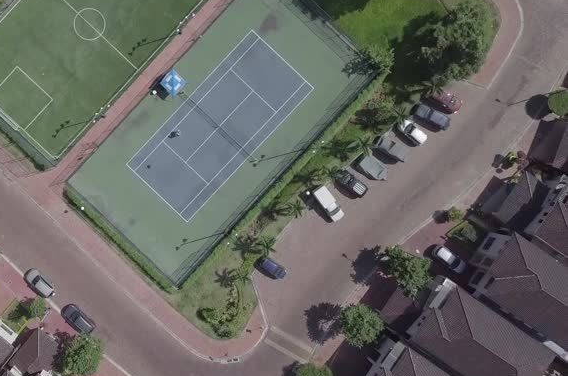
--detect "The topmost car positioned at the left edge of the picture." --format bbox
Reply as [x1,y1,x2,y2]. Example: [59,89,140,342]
[23,266,56,299]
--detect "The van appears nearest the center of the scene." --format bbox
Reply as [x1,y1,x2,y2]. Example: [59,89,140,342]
[314,185,344,221]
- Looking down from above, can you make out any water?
No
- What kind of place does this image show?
sports ground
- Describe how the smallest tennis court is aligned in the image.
at an angle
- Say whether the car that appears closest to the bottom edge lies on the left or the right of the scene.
left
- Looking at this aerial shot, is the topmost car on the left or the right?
right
